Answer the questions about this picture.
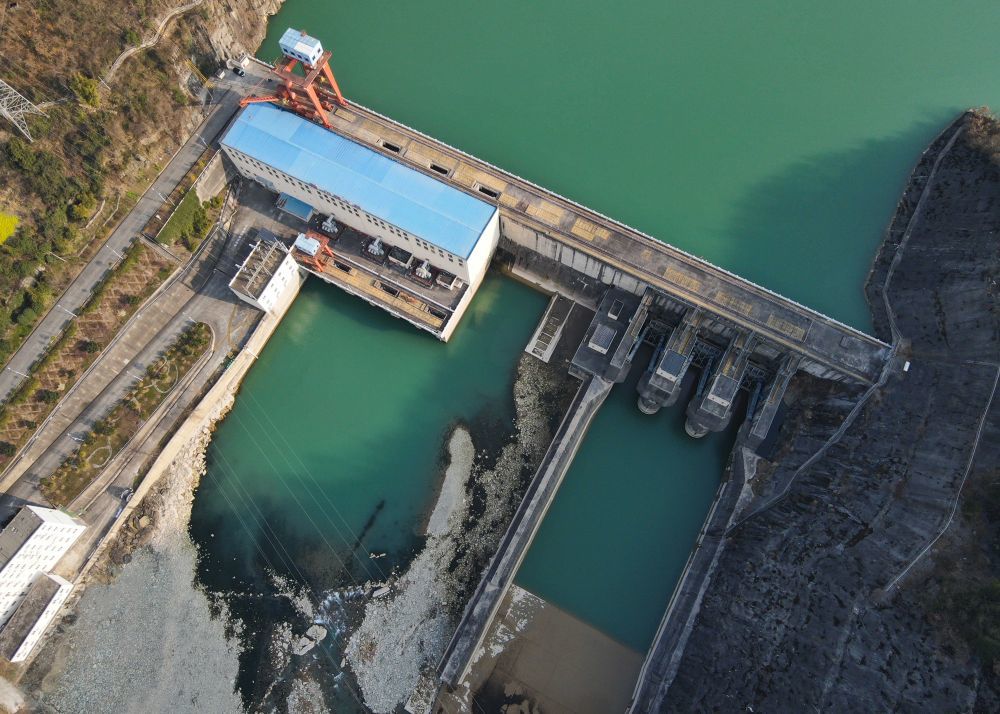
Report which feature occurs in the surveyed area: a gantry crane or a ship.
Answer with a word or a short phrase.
gantry crane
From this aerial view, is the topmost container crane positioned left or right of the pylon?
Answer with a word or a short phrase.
to the right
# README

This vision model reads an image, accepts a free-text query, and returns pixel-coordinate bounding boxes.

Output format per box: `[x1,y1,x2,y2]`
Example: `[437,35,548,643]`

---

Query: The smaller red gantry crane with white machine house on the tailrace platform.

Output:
[291,228,336,273]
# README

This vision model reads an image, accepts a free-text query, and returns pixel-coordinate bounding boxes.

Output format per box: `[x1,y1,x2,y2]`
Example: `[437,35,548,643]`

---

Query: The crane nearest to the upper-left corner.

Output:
[238,26,348,128]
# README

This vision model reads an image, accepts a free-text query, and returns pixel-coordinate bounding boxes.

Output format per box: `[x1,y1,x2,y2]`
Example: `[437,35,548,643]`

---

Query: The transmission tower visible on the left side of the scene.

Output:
[0,85,48,141]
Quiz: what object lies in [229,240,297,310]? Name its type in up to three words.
building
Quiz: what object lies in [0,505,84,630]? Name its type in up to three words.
building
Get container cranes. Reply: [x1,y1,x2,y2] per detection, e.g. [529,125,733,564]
[291,228,336,273]
[238,26,348,128]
